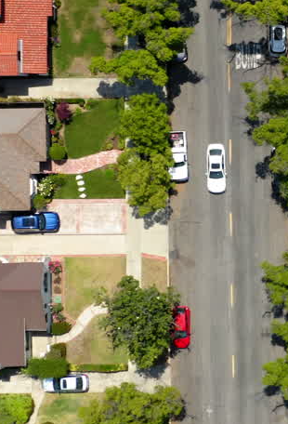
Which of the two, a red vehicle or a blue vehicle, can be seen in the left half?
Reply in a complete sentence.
It is a blue vehicle that can be seen in the left half.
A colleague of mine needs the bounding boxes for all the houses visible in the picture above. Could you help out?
[0,0,53,77]
[0,109,48,214]
[0,263,48,369]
